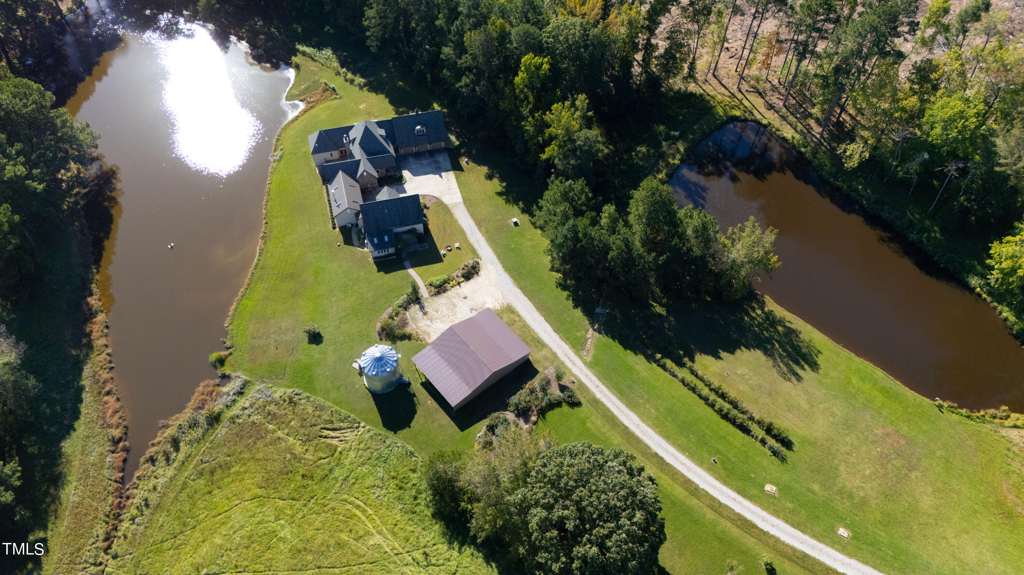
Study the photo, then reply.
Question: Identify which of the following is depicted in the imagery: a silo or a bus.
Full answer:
It is a silo that can be seen here.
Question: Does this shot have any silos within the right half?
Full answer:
No, the scene shows no silo within the right half.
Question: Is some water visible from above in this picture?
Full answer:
Yes, there is water in the image.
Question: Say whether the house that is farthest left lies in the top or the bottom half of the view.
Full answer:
The house that is farthest left is in the top half of the image.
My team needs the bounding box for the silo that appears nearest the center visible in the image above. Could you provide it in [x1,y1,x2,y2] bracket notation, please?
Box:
[354,345,410,395]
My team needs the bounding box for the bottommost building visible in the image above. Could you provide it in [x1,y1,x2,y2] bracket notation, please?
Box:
[411,308,530,412]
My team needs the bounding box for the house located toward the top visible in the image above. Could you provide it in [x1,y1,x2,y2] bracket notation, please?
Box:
[307,106,446,258]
